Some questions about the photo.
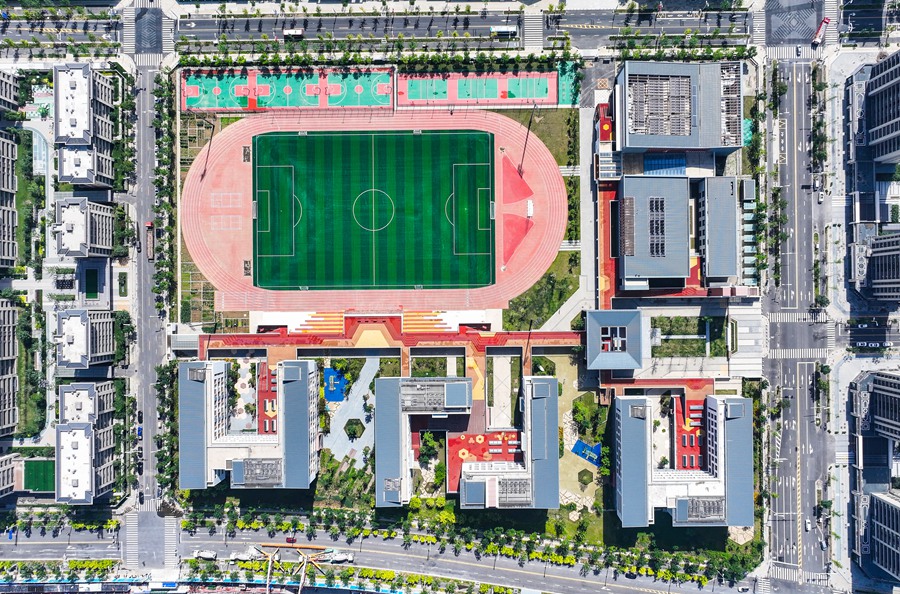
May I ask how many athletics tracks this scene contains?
one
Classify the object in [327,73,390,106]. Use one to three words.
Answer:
basketball court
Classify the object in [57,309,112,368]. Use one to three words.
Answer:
building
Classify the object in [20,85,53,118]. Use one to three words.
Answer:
playground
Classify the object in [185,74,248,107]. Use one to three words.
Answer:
basketball court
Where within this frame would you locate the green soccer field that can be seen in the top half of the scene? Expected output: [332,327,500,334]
[252,131,495,290]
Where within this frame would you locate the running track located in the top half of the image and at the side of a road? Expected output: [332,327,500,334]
[181,110,568,311]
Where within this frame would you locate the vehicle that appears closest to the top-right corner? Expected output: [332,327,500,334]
[810,18,830,47]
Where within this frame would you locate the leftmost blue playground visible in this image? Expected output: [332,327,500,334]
[324,368,348,402]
